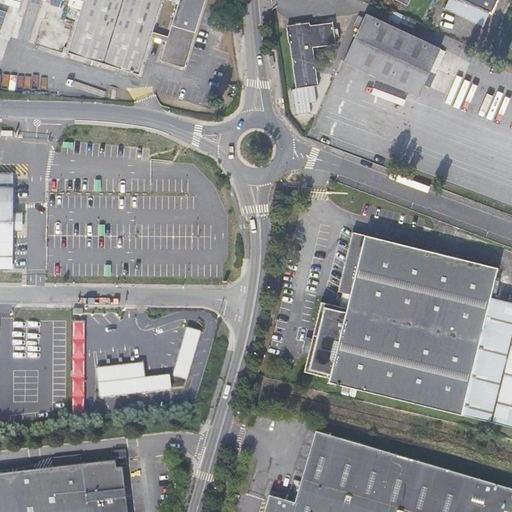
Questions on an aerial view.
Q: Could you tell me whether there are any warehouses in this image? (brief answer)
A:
Yes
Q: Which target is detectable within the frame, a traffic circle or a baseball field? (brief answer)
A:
traffic circle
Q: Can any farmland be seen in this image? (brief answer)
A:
No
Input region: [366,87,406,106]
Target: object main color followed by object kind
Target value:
white vehicle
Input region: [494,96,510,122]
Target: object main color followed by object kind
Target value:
white vehicle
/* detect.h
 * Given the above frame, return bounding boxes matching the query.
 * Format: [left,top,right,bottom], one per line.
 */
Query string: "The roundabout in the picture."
[218,110,296,188]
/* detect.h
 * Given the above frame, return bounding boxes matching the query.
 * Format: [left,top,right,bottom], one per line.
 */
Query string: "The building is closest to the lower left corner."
[0,459,129,512]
